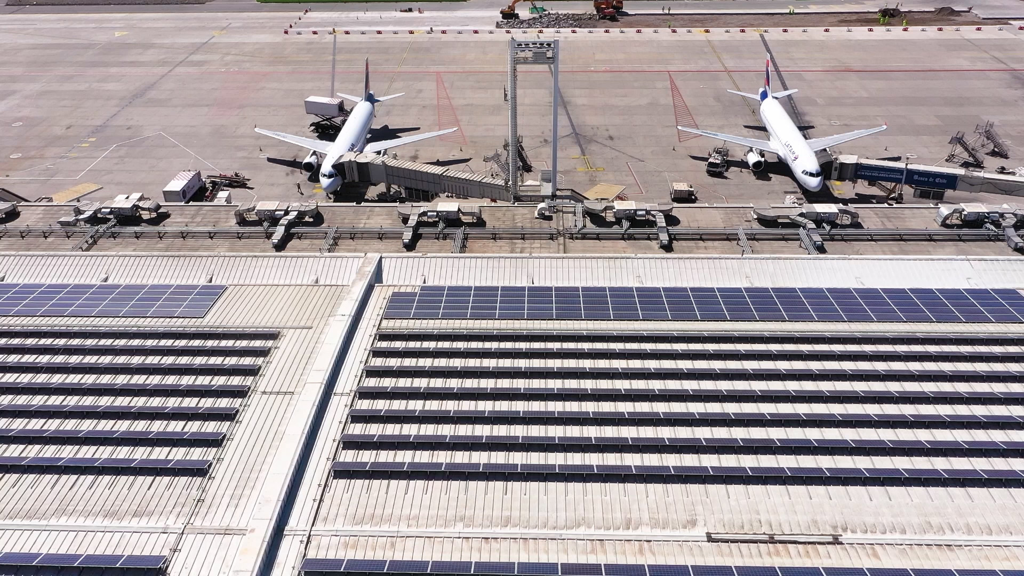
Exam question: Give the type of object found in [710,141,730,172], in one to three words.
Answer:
vehicle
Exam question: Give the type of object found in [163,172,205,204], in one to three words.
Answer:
truck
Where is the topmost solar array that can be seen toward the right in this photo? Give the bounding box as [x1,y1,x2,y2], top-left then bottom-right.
[383,284,1024,319]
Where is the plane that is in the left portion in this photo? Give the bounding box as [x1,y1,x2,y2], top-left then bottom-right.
[254,59,458,197]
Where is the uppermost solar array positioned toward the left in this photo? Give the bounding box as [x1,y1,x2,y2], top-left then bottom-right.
[0,282,227,315]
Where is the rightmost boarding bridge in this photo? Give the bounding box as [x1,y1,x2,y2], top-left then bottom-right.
[821,152,1024,205]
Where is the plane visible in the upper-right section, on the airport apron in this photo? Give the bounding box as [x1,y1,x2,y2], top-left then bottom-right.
[677,55,888,195]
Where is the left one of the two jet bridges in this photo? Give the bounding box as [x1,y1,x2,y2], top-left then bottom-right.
[341,154,510,202]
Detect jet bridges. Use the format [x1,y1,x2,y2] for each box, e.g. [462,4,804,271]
[821,152,1024,205]
[341,154,510,202]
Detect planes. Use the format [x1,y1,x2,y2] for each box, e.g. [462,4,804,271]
[254,59,458,197]
[677,55,888,195]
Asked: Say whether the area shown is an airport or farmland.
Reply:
airport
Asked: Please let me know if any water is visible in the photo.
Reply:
No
